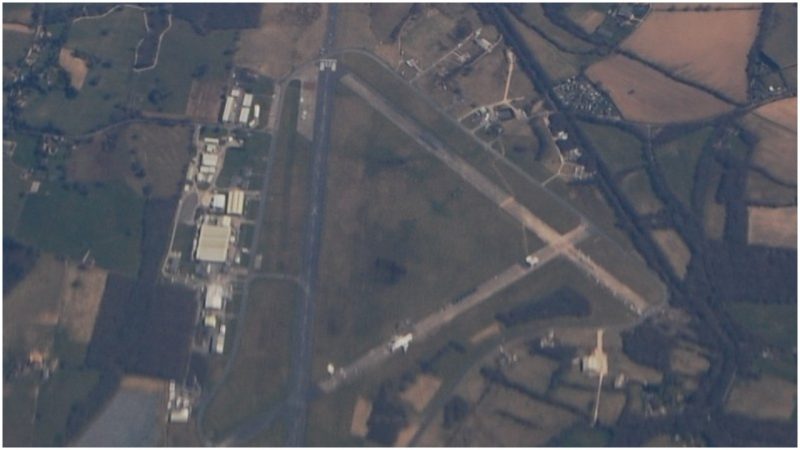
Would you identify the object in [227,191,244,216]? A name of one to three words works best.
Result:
hangar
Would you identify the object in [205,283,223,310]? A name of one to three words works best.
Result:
hangar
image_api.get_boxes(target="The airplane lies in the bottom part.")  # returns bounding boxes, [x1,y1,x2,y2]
[391,334,411,350]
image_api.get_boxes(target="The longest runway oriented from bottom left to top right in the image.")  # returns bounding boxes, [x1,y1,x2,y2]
[317,223,593,391]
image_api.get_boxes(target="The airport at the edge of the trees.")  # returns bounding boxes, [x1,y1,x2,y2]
[195,0,659,450]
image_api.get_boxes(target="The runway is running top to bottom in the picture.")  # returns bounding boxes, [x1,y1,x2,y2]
[286,49,337,450]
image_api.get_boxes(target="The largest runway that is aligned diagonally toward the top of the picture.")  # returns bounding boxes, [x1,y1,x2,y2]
[340,74,512,205]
